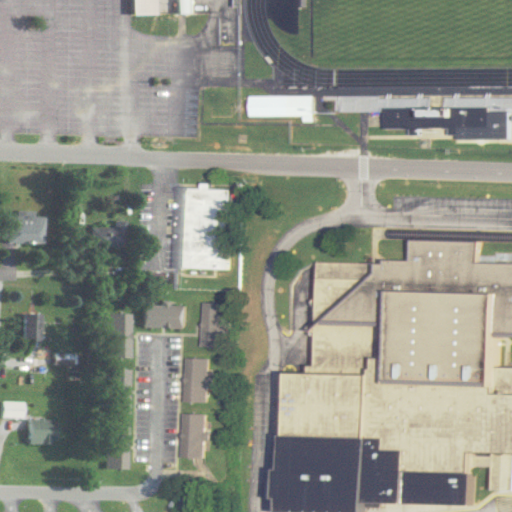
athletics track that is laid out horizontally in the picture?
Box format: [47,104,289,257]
[244,0,512,96]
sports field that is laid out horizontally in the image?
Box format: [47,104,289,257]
[266,0,512,70]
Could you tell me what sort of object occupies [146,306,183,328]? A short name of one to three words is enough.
building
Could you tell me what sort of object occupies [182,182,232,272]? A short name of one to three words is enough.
building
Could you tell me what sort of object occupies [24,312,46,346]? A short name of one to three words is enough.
house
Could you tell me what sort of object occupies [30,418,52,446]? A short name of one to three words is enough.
house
